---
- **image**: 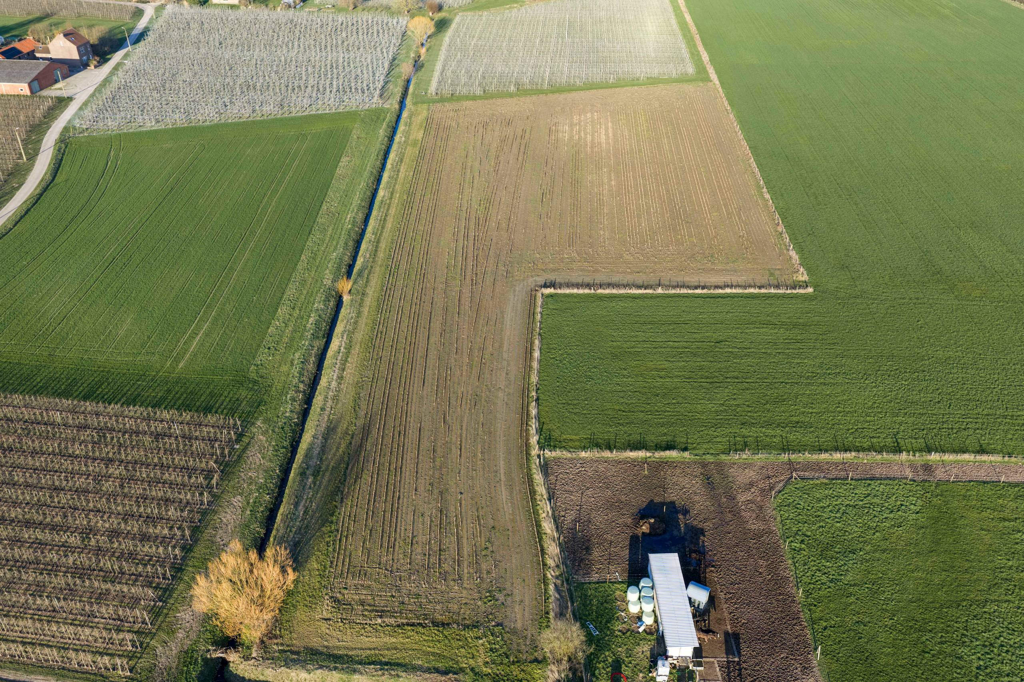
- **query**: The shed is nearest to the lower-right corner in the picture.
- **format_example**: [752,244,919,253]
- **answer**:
[646,552,700,660]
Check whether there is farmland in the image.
Yes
